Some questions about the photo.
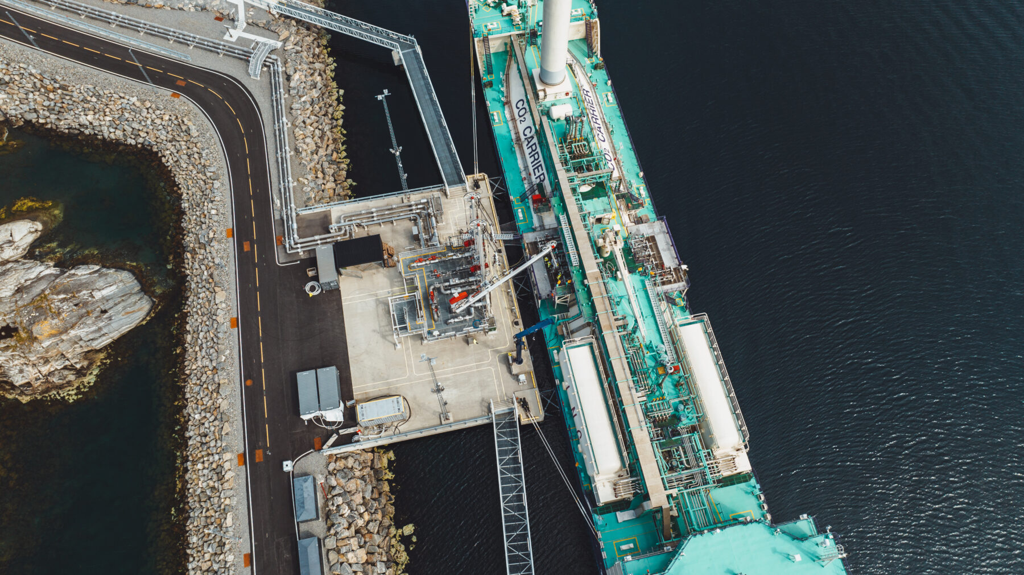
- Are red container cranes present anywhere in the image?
No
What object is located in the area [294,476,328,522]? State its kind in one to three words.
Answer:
building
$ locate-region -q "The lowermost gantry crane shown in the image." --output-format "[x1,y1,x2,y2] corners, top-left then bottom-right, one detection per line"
[507,321,558,377]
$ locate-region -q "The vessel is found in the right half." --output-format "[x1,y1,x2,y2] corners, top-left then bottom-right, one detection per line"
[469,0,852,575]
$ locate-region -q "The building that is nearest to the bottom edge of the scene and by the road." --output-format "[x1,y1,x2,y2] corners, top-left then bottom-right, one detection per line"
[298,537,332,575]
